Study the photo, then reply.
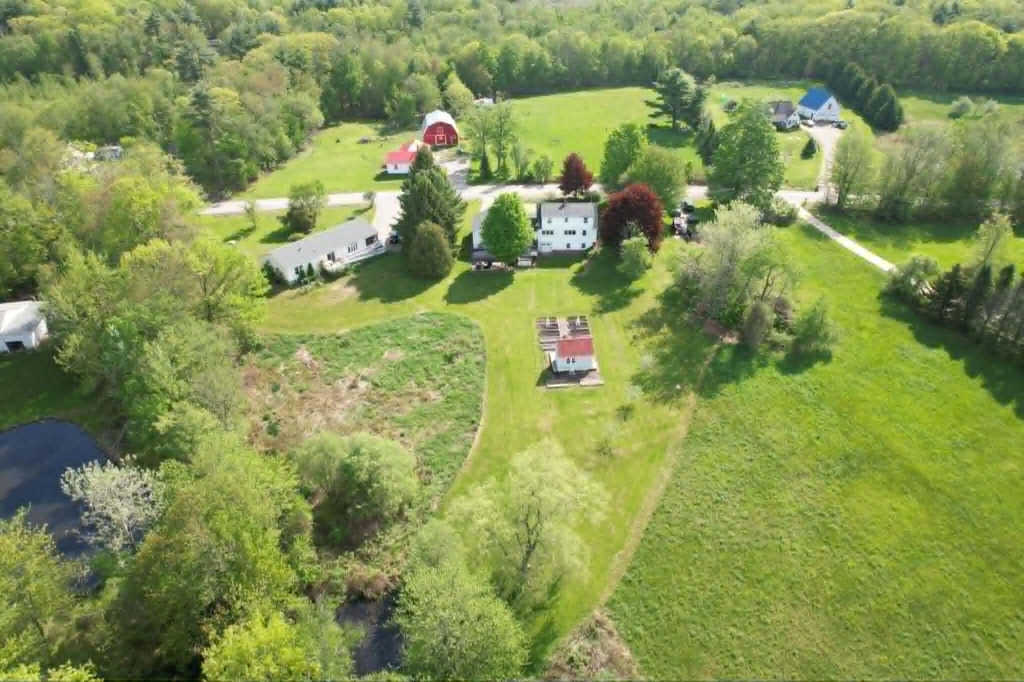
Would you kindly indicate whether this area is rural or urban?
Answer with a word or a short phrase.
rural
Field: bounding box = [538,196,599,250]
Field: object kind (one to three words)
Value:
house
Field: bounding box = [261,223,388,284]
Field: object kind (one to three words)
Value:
house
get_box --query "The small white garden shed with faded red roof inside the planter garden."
[553,334,599,373]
